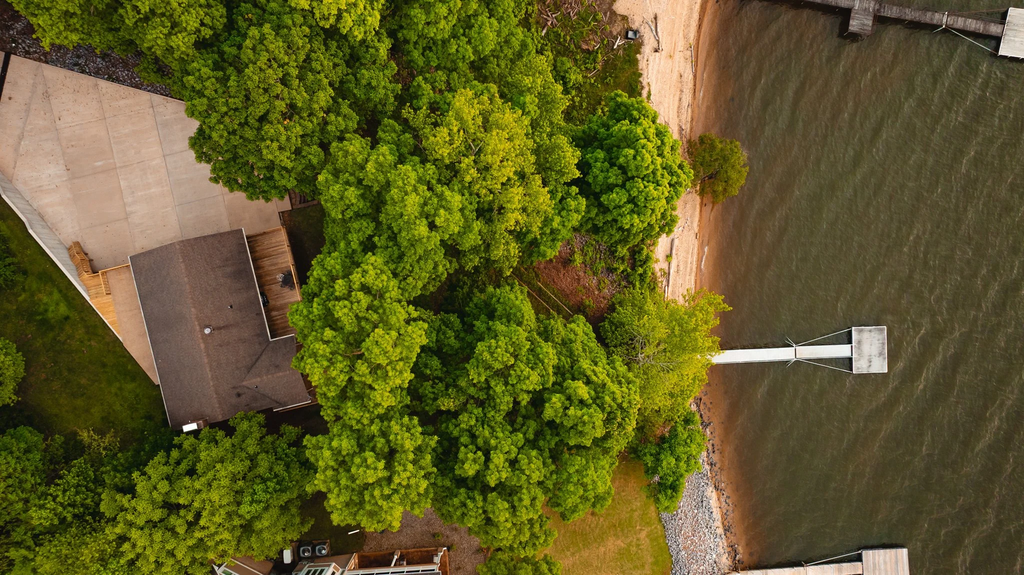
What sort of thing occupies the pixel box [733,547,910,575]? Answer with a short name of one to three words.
pier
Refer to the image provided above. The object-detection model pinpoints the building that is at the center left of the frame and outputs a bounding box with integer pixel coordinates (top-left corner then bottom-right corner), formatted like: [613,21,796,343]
[128,229,312,433]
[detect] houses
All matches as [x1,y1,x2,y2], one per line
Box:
[193,539,450,575]
[128,229,312,433]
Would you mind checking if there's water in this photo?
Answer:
Yes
